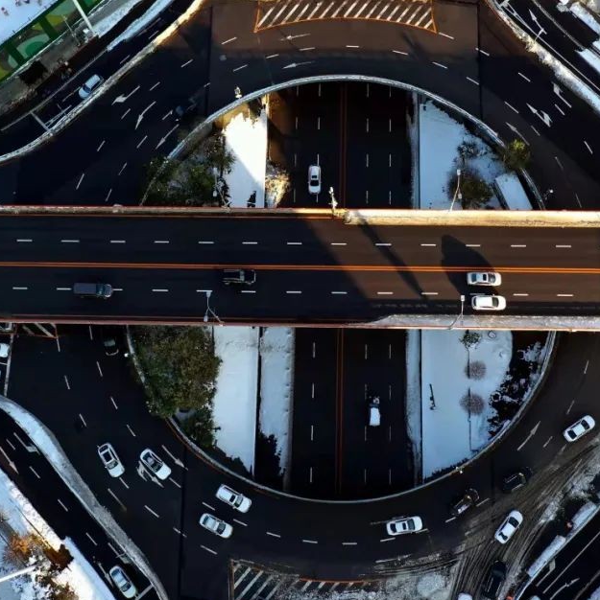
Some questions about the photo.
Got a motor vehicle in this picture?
Yes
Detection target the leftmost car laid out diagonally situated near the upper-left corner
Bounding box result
[78,73,104,98]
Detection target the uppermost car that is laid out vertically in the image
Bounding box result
[308,165,321,193]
